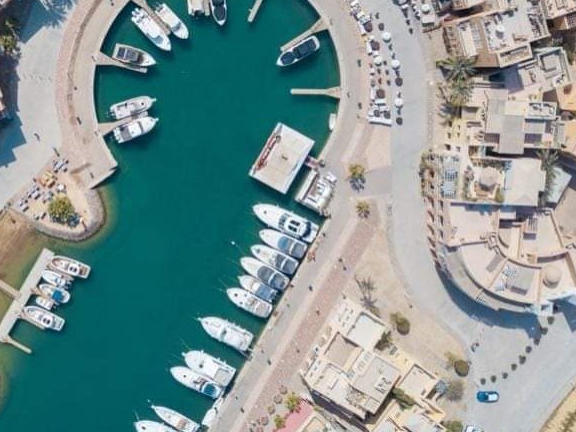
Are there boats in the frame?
Yes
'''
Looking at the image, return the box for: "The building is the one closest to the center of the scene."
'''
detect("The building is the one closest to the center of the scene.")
[250,124,314,193]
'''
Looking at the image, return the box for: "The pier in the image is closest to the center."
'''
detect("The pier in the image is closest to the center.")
[294,169,332,214]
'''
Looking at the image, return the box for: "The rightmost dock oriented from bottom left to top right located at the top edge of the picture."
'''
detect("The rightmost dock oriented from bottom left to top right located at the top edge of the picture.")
[280,17,328,51]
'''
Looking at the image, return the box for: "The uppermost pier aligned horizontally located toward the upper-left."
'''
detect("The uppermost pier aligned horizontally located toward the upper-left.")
[96,51,147,73]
